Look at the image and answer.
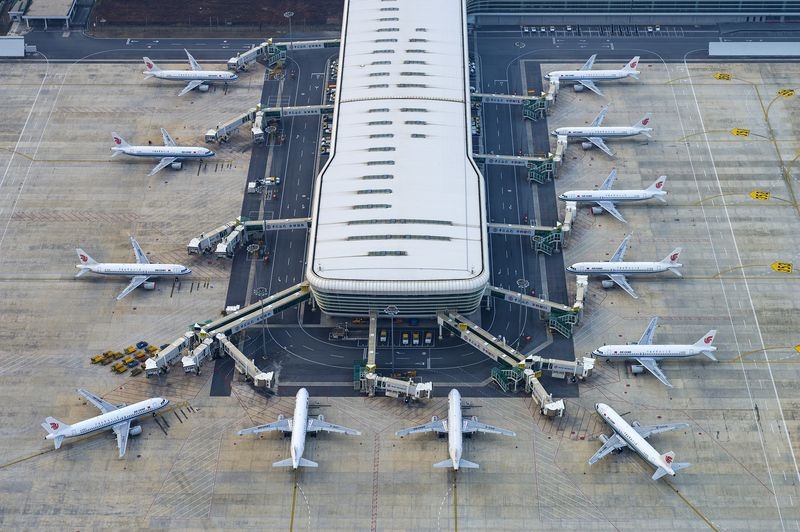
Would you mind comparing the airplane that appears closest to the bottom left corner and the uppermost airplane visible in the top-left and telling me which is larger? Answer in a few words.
the airplane that appears closest to the bottom left corner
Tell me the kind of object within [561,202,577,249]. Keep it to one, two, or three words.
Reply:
jet bridge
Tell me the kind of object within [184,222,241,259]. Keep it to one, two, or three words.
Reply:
jet bridge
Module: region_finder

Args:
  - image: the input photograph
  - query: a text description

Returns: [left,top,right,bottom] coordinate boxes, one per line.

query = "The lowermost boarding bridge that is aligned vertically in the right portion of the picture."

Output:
[570,272,588,327]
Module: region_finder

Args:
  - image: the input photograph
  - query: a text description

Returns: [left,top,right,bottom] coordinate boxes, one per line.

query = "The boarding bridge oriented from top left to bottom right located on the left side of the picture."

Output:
[216,333,273,393]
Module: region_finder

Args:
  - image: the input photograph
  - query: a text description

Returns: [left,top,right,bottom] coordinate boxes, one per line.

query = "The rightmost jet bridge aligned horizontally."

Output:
[531,354,598,385]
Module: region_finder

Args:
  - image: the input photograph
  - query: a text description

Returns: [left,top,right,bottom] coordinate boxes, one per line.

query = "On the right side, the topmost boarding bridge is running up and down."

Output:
[545,76,559,117]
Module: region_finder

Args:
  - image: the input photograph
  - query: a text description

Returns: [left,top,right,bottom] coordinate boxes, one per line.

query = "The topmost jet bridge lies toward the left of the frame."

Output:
[227,43,273,73]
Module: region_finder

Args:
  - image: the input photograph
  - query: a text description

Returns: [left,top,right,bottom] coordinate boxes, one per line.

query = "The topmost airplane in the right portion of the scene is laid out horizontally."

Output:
[545,53,641,97]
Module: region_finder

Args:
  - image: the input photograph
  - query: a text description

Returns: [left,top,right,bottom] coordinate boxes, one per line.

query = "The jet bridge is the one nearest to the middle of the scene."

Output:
[366,372,436,405]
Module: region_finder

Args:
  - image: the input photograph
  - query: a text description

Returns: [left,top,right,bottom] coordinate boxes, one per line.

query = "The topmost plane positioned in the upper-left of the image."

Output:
[142,54,238,97]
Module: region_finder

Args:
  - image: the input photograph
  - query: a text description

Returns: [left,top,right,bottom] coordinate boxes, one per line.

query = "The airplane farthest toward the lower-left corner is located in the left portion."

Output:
[42,388,168,460]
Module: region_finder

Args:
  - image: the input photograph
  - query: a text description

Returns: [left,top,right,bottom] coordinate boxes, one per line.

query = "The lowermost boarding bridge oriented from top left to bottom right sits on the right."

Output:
[523,369,565,422]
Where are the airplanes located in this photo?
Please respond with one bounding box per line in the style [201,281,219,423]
[395,388,515,471]
[42,388,168,460]
[552,107,654,155]
[545,53,641,97]
[75,237,191,299]
[110,127,213,177]
[559,168,668,223]
[142,54,238,97]
[593,316,718,388]
[238,387,357,470]
[567,236,683,298]
[589,403,690,478]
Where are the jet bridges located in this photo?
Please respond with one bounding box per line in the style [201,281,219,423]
[212,227,245,262]
[202,106,261,145]
[216,333,273,393]
[570,272,588,327]
[184,222,241,259]
[523,369,565,422]
[366,372,436,405]
[531,354,598,385]
[227,43,273,73]
[561,202,577,249]
[252,112,267,144]
[552,134,568,179]
[545,76,559,117]
[141,331,196,378]
[178,337,215,377]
